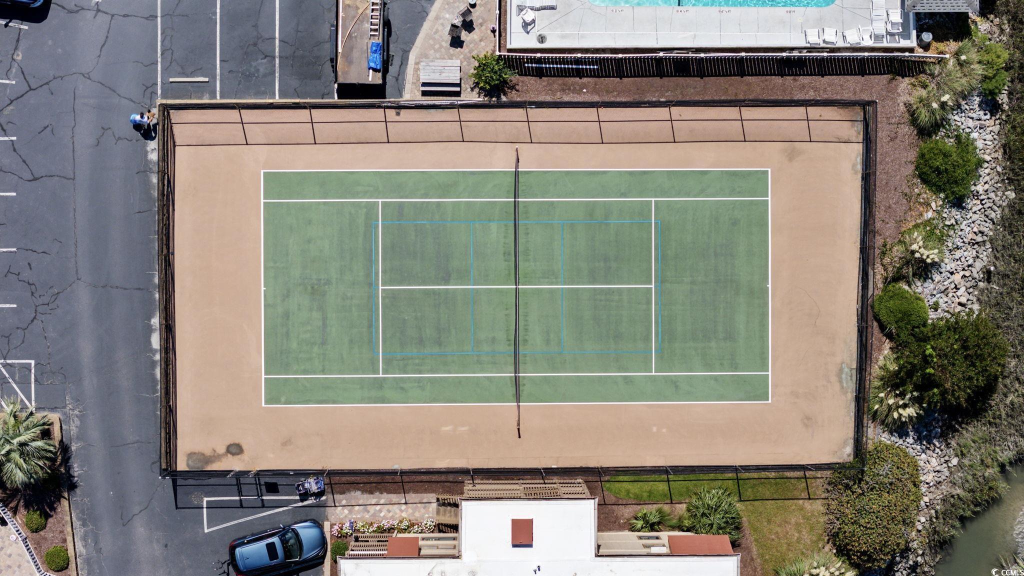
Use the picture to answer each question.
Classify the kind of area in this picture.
sports ground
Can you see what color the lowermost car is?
blue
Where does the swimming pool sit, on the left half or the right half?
right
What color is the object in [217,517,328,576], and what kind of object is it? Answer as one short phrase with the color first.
blue car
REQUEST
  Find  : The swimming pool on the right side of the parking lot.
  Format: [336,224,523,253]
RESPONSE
[507,0,917,48]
